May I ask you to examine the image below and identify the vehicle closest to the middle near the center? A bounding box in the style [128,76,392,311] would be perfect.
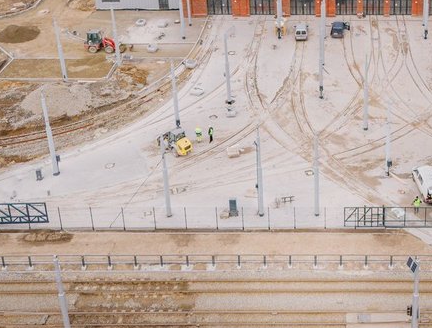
[154,126,193,156]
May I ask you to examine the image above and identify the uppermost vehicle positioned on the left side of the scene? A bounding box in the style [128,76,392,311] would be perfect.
[81,32,120,54]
